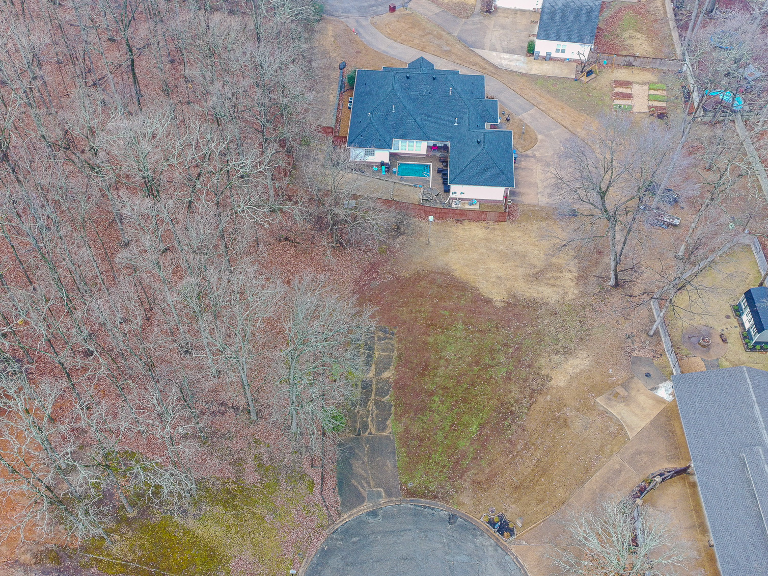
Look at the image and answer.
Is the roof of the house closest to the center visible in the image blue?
Yes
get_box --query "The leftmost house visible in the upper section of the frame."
[346,59,515,205]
